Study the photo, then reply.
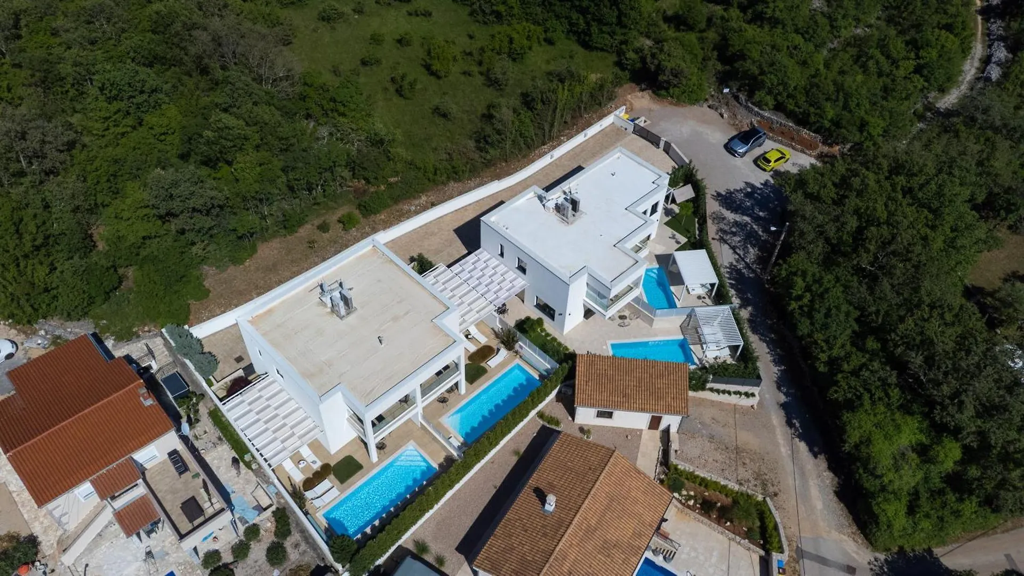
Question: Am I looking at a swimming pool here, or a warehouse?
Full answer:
Of the two, only a swimming pool appears.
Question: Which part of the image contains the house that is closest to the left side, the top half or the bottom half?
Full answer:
You can find the house that is closest to the left side in the bottom half.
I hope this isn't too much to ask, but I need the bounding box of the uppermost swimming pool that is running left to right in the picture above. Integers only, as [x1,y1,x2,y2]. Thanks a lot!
[606,334,698,368]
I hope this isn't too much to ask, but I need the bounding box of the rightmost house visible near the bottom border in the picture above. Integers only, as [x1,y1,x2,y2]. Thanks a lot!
[468,431,676,576]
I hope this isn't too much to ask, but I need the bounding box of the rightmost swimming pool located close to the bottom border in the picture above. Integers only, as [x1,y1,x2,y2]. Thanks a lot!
[633,548,696,576]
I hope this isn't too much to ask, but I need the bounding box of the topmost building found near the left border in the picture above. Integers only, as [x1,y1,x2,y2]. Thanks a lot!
[0,335,237,557]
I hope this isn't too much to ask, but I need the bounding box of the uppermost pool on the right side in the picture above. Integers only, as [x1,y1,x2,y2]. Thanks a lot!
[638,263,680,312]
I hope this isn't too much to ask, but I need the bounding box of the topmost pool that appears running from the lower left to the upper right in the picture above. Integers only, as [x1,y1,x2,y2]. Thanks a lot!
[436,356,540,448]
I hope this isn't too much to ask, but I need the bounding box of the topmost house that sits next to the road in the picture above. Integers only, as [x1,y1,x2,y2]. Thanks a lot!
[481,146,669,335]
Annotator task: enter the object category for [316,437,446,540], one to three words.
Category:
swimming pool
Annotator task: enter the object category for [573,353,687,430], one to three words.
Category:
shed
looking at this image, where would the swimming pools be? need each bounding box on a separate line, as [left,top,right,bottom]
[638,263,680,312]
[153,566,182,576]
[316,437,446,540]
[436,356,540,448]
[633,548,696,576]
[606,334,698,368]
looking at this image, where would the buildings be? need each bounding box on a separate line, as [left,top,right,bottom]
[237,239,464,460]
[468,431,676,576]
[0,335,237,557]
[481,146,669,335]
[573,353,687,430]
